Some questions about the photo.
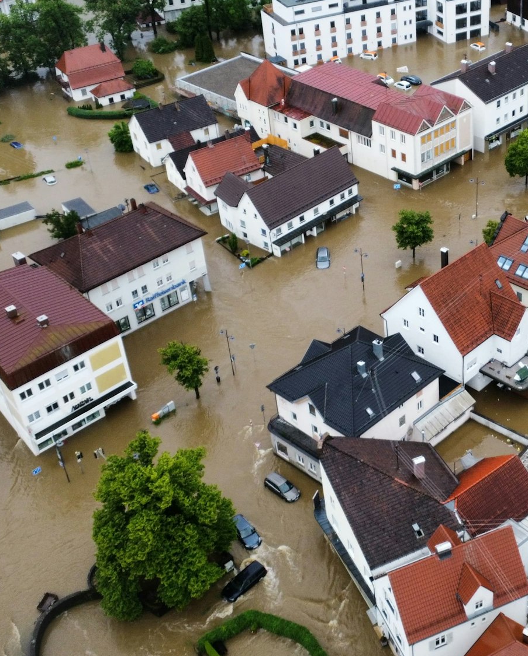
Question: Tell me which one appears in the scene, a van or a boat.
van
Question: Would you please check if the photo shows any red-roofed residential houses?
Yes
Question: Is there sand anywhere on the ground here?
No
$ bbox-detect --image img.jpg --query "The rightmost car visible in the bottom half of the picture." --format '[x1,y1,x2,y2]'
[259,471,303,505]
